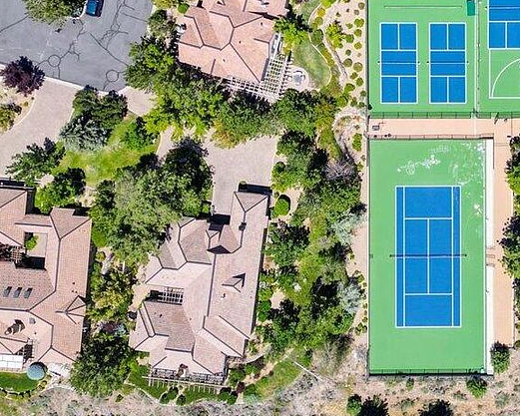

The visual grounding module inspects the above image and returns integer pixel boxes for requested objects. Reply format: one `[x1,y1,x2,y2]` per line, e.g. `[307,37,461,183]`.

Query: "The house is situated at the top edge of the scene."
[178,0,293,82]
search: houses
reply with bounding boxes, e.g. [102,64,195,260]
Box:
[178,0,293,82]
[0,188,97,364]
[129,190,270,378]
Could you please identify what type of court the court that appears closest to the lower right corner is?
tennis court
